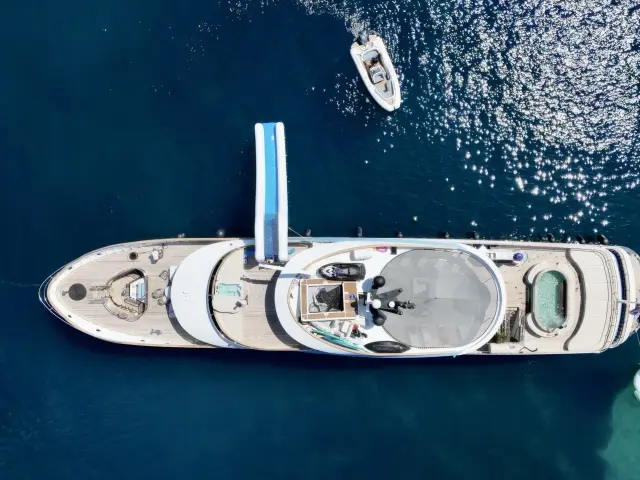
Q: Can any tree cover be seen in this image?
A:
No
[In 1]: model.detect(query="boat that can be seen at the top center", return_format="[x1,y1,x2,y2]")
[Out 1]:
[352,33,402,111]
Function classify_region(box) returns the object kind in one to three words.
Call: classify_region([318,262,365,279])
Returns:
boat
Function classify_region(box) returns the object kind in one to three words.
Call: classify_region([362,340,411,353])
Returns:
boat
